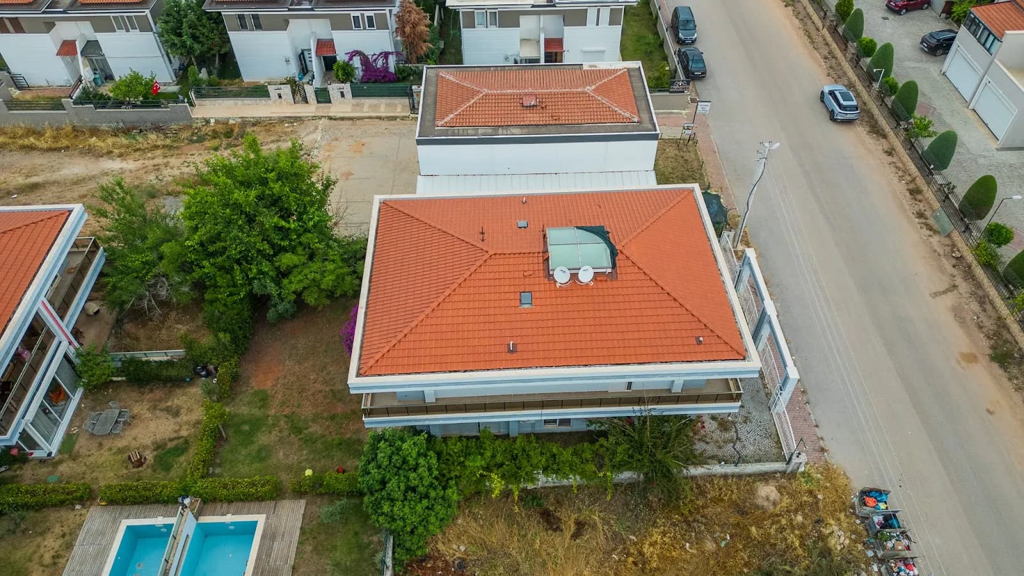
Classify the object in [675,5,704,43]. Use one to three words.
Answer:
van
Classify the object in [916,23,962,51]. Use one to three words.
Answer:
car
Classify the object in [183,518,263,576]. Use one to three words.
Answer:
swimming pool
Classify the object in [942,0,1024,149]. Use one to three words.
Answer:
building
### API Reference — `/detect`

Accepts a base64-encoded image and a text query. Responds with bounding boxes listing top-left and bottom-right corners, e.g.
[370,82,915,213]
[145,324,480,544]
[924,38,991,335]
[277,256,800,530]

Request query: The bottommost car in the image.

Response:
[814,81,861,121]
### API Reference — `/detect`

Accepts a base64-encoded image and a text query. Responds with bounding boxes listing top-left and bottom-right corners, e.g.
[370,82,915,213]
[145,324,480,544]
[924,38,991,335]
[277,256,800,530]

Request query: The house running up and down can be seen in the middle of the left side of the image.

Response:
[0,204,106,456]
